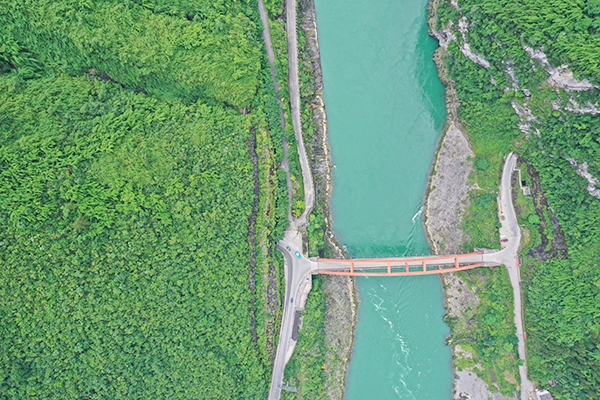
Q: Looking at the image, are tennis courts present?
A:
No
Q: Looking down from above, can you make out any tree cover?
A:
Yes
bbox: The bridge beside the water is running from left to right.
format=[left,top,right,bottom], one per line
[307,249,496,277]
